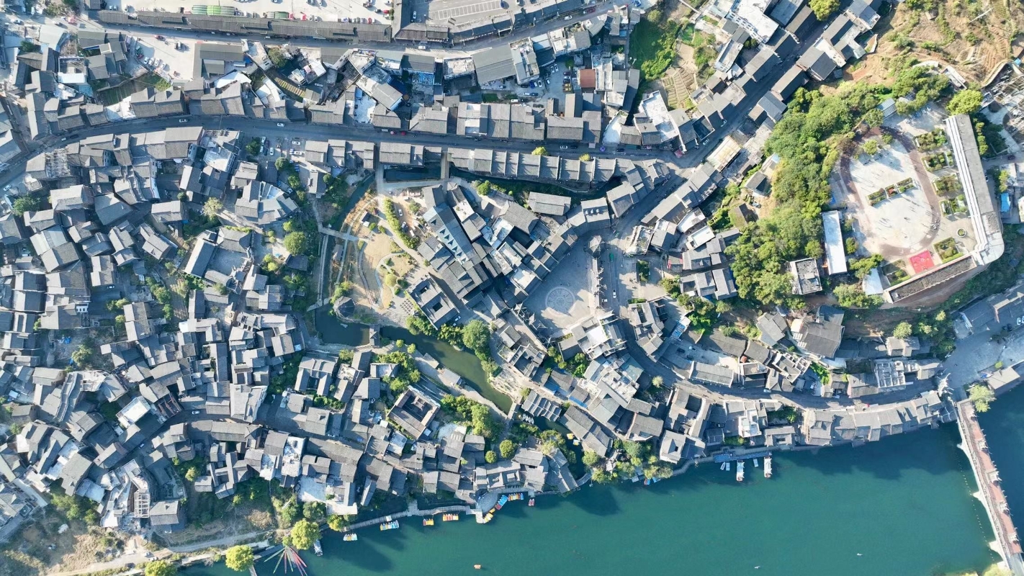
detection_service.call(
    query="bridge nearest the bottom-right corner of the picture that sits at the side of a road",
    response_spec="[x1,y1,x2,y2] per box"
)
[954,387,1021,569]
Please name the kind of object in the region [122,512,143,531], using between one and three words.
building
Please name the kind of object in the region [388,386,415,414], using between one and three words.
house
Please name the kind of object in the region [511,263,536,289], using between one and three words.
building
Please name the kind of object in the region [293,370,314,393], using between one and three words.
house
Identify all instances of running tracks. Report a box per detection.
[841,127,939,255]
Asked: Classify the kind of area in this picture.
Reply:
residential area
